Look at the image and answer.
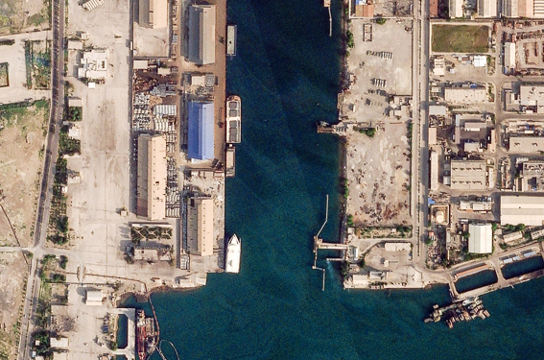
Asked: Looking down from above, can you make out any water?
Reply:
Yes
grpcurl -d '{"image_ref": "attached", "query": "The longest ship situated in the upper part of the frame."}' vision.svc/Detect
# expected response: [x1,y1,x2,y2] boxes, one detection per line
[226,94,241,144]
